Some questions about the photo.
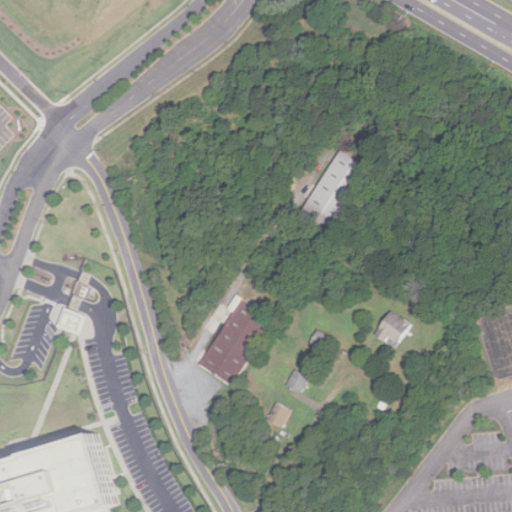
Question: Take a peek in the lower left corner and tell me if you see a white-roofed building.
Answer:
Yes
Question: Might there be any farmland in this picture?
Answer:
No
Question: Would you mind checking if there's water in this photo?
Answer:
No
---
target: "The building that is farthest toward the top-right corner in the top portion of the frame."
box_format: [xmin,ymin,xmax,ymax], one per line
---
[304,151,360,223]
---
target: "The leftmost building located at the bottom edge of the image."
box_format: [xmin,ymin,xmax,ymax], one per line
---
[0,431,120,512]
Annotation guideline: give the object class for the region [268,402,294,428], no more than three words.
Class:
house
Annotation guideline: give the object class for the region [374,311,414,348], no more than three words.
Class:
house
